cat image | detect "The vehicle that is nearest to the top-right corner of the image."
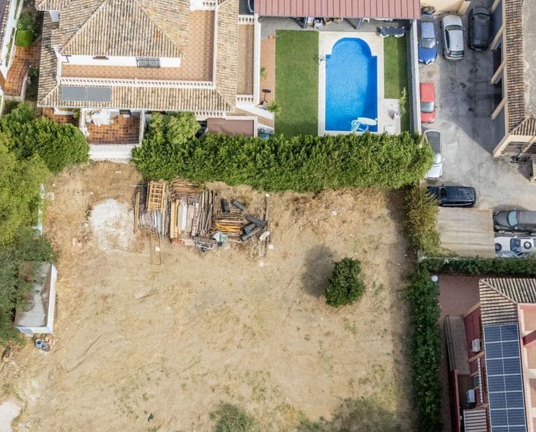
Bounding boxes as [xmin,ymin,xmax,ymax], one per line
[465,7,494,55]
